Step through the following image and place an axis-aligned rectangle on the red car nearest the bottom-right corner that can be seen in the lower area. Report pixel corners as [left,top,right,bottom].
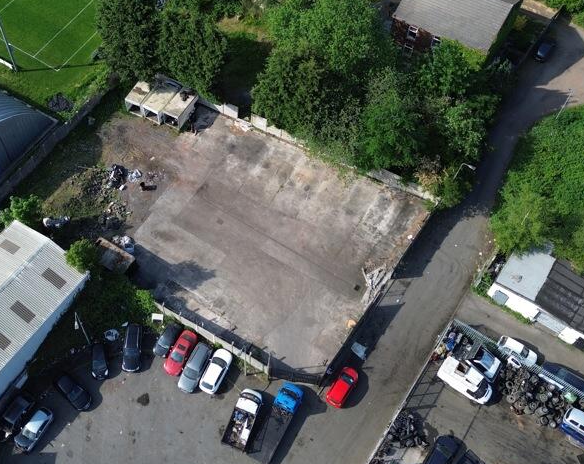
[327,368,357,407]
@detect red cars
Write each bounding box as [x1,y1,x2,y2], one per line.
[166,331,196,374]
[327,368,357,407]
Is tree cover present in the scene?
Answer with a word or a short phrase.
Yes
